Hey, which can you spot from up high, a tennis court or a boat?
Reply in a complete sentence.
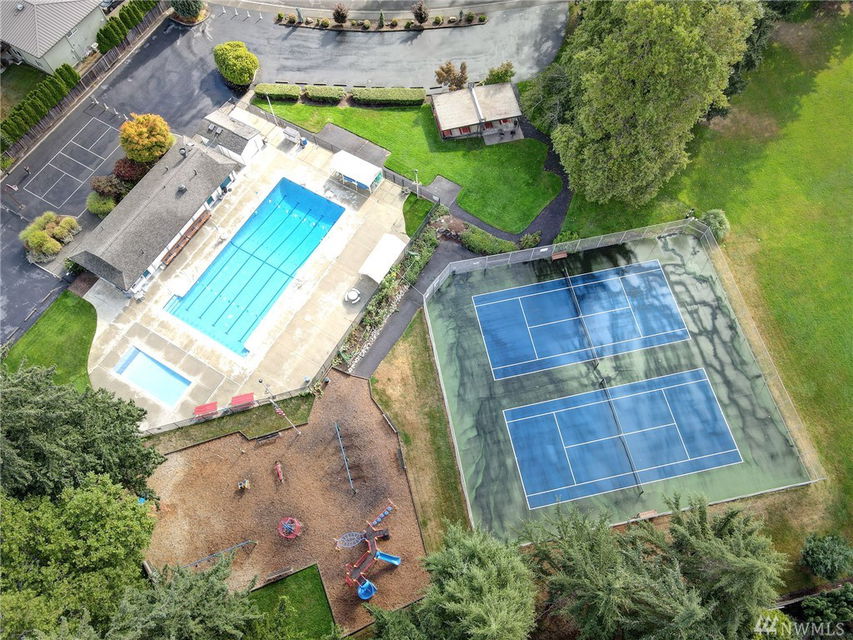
Of the two, only a tennis court appears.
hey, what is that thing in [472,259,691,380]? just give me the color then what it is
blue tennis court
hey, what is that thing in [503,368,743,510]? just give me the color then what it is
blue tennis court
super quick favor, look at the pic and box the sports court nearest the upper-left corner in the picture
[17,112,122,212]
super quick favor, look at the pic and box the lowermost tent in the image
[358,234,407,289]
